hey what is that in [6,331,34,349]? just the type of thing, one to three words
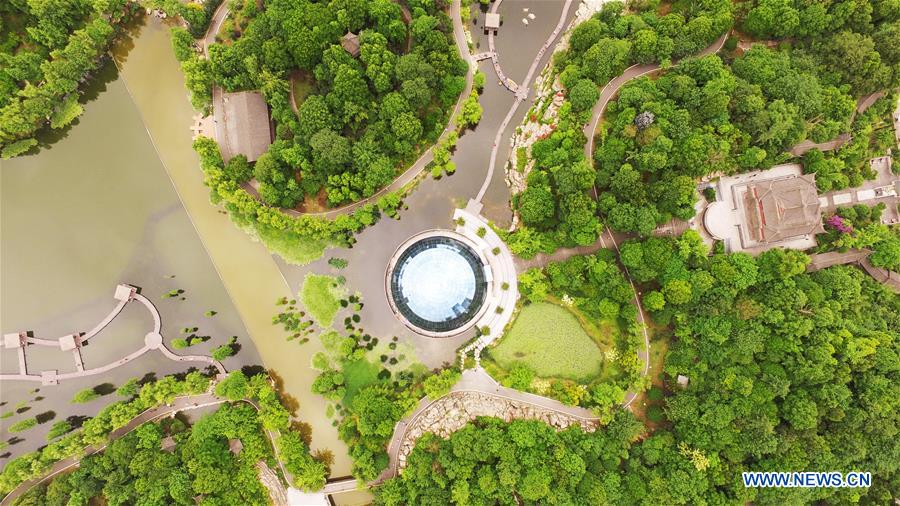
building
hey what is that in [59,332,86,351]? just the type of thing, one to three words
building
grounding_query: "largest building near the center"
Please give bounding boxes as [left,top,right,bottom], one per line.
[385,230,494,338]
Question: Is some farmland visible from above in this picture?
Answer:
No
